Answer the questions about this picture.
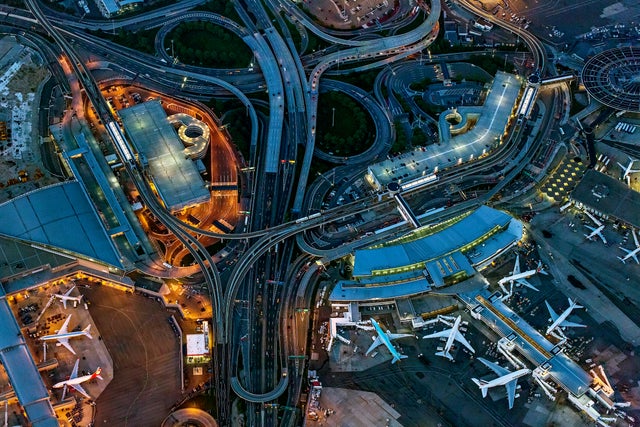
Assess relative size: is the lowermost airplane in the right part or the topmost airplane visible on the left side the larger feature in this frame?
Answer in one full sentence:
Compared with the topmost airplane visible on the left side, the lowermost airplane in the right part is the larger one.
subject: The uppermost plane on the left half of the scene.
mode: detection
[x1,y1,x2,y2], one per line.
[55,284,83,309]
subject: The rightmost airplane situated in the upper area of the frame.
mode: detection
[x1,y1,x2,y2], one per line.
[616,155,640,180]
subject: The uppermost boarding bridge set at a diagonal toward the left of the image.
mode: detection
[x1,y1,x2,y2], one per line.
[34,294,56,324]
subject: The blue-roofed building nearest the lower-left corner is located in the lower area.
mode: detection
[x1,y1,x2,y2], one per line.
[0,299,62,427]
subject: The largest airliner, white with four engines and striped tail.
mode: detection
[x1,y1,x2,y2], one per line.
[471,345,531,410]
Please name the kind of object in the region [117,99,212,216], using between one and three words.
building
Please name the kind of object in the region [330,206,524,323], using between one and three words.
building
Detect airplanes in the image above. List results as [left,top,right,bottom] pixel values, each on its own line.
[369,319,410,364]
[616,155,640,180]
[544,295,588,334]
[498,250,549,293]
[55,284,83,309]
[616,242,640,268]
[426,316,474,359]
[40,313,92,356]
[471,345,531,410]
[582,223,604,244]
